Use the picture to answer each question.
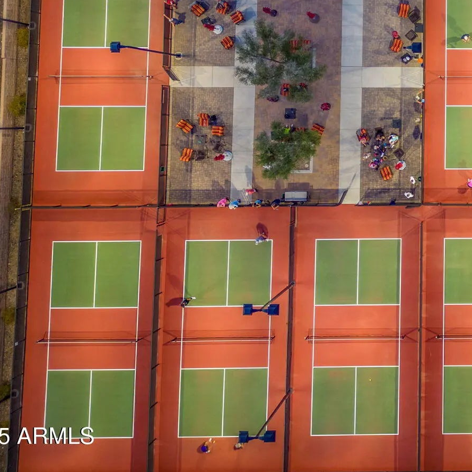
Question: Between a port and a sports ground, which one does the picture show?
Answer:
sports ground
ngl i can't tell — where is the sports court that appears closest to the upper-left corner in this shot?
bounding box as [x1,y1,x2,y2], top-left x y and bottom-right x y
[33,0,172,205]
